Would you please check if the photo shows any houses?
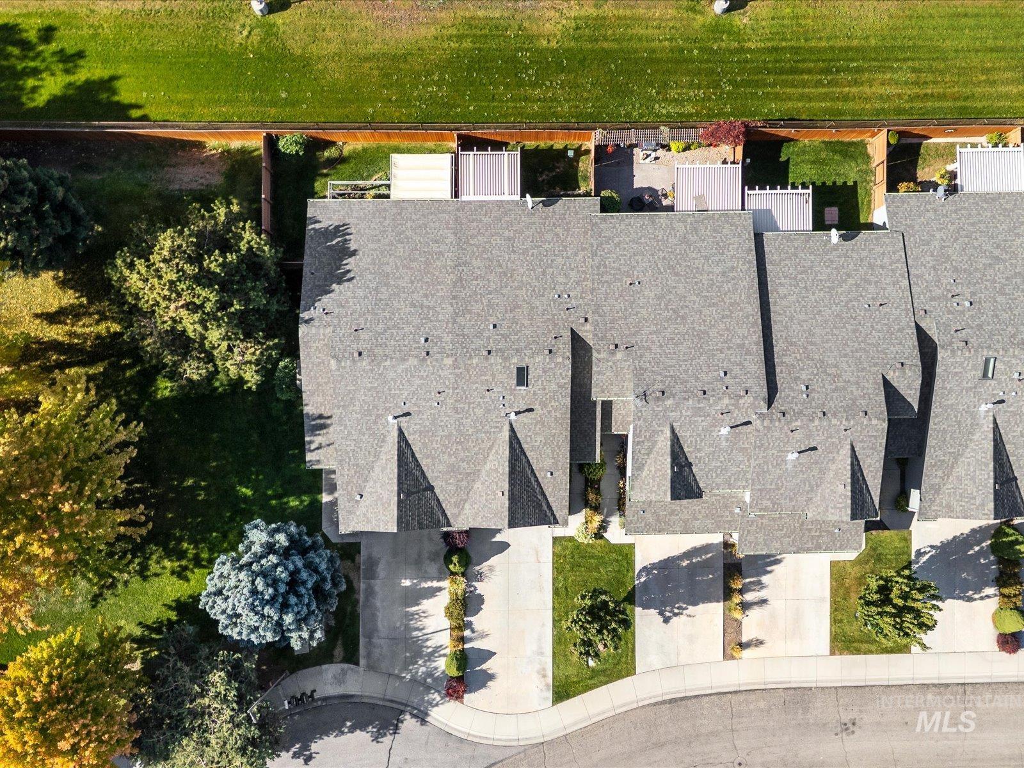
Yes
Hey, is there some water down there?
No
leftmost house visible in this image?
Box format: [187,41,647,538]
[298,197,602,538]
